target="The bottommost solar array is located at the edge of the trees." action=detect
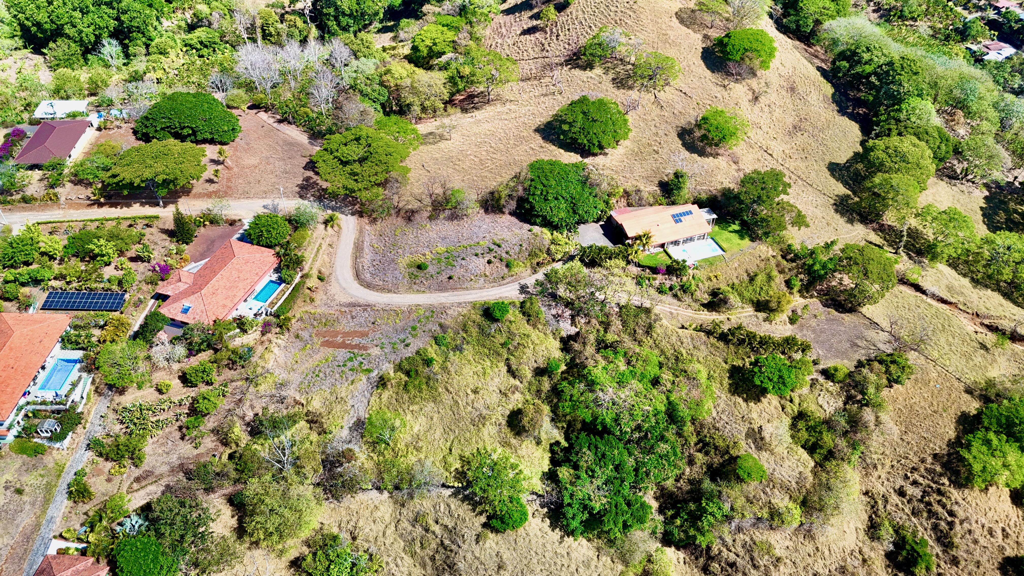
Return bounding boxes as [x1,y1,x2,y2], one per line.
[42,292,128,312]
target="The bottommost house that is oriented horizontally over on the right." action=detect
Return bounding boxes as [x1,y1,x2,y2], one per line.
[603,202,715,252]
